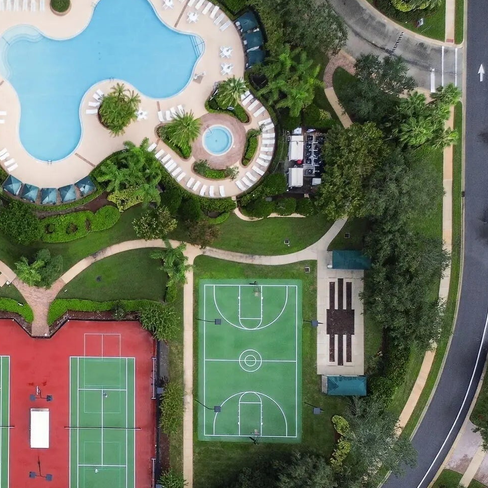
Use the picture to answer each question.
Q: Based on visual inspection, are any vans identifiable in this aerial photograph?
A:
No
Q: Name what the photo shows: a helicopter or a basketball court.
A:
basketball court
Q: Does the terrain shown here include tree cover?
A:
Yes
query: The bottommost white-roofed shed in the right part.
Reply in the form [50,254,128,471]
[284,168,302,189]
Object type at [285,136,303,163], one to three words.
shed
